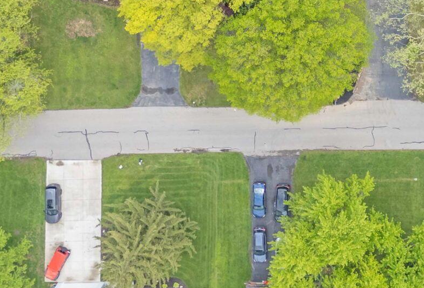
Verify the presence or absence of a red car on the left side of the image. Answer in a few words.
Yes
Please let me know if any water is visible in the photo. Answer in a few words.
No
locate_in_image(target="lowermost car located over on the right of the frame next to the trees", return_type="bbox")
[250,228,268,265]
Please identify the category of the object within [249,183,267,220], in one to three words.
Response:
car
